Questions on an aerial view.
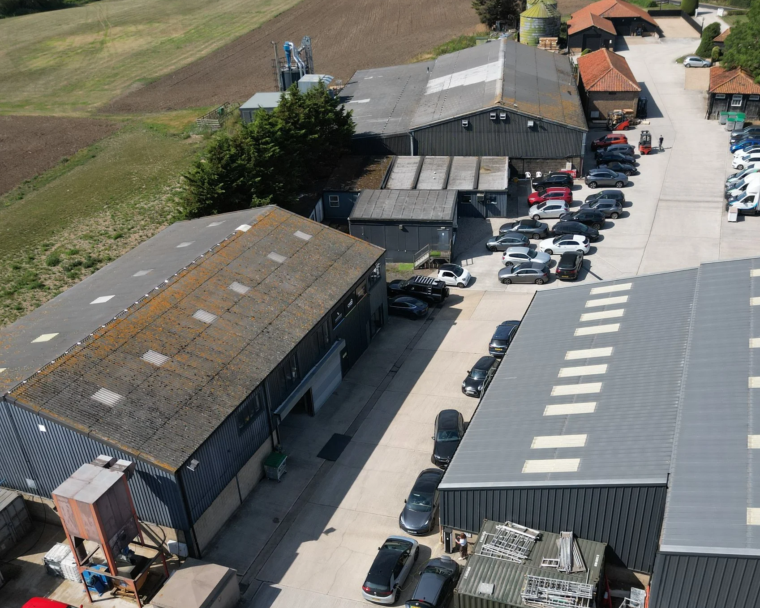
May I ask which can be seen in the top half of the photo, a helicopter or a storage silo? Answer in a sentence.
It is a storage silo that can be seen in the top half of the photo.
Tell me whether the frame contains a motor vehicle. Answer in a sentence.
Yes, there is a motor vehicle in the image.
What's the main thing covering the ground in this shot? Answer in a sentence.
The scene is dominated by buildings.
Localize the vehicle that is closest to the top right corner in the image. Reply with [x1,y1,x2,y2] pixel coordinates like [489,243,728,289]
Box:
[682,56,712,68]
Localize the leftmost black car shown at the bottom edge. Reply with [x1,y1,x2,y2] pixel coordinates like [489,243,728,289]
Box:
[359,534,420,608]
